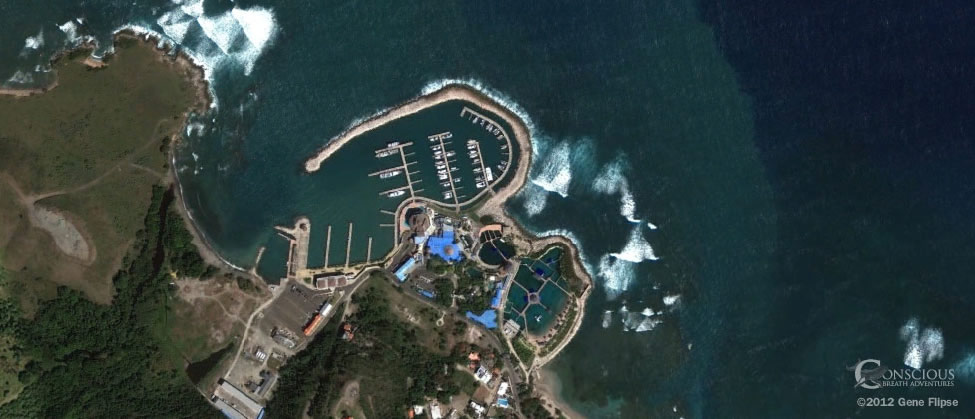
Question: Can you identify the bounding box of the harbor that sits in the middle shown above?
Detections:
[256,84,531,268]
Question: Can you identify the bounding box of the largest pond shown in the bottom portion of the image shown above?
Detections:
[505,247,570,336]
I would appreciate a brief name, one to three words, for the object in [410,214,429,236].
building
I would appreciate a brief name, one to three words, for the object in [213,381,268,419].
building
